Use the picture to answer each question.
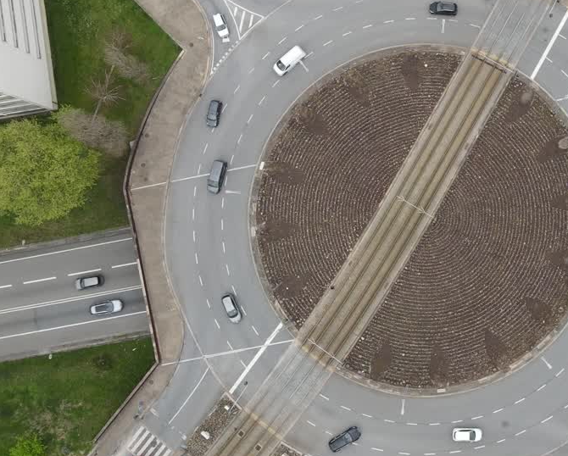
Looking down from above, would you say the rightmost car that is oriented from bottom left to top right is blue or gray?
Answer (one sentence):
In this view, the rightmost car that is oriented from bottom left to top right is gray.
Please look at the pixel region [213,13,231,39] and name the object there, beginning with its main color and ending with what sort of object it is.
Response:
white car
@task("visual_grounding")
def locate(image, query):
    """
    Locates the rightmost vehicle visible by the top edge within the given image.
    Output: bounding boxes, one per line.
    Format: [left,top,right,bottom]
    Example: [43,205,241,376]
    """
[429,0,458,16]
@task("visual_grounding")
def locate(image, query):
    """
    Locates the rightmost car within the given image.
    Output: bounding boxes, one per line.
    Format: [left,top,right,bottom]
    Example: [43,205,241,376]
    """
[452,427,482,442]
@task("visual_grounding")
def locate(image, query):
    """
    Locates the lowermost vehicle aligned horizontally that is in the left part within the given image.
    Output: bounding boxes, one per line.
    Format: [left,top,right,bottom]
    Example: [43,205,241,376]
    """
[91,299,124,315]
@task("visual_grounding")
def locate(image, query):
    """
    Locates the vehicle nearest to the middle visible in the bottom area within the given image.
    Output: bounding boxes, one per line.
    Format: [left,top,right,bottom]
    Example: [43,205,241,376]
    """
[220,294,243,322]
